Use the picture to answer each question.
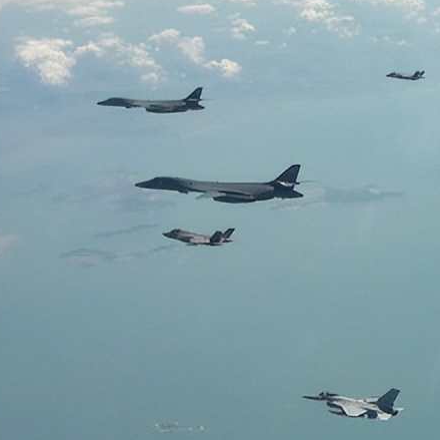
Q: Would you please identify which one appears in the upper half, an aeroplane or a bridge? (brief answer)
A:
aeroplane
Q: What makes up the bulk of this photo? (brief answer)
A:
water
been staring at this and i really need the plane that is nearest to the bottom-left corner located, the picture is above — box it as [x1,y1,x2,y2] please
[164,227,235,246]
